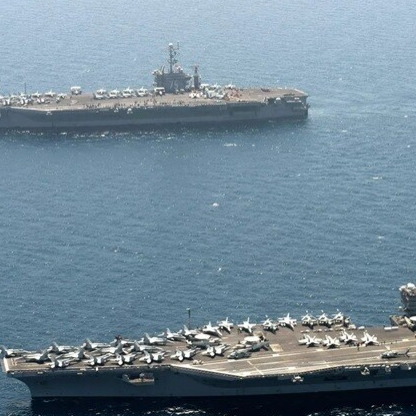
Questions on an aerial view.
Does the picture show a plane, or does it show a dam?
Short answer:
plane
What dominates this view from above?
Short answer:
water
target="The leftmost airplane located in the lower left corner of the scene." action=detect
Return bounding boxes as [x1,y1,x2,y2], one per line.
[0,344,31,358]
